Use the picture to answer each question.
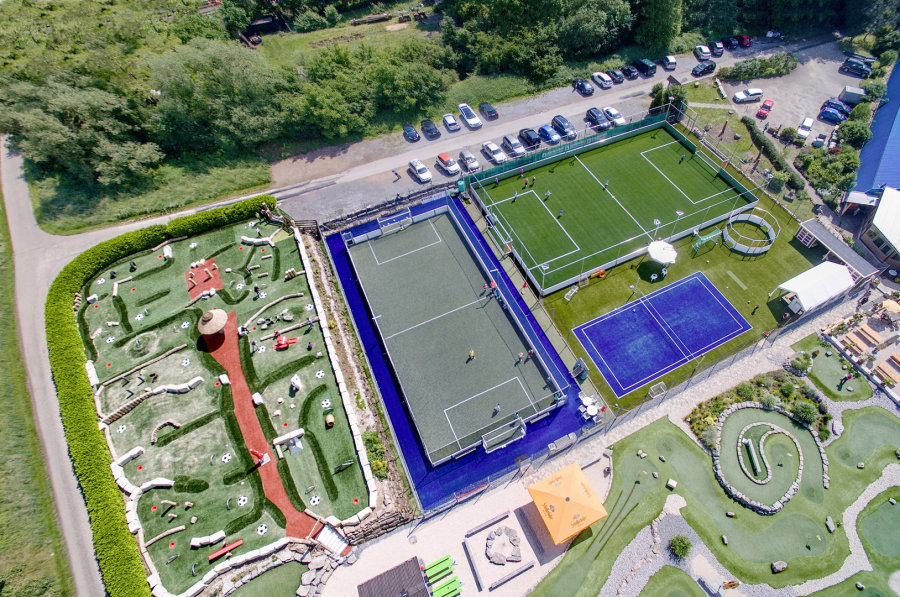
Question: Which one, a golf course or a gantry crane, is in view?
golf course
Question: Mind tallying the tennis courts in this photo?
1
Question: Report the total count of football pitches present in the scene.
2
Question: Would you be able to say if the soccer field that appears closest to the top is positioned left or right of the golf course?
on its right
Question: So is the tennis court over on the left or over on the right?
right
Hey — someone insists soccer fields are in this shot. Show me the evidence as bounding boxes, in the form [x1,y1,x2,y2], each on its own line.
[325,192,579,516]
[476,105,771,295]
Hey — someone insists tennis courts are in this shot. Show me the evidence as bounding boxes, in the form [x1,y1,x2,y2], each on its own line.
[572,271,753,398]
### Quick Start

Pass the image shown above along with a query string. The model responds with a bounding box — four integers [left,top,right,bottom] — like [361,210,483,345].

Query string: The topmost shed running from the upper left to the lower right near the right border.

[792,218,880,290]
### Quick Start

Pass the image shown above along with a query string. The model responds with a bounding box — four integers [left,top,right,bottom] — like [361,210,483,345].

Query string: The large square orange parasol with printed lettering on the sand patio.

[528,462,607,545]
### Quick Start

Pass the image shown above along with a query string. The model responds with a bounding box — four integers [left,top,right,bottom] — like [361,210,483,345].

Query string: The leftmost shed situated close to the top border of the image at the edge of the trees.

[250,14,277,37]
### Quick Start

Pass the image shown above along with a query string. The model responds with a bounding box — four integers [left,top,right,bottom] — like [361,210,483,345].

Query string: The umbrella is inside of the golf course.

[199,310,230,337]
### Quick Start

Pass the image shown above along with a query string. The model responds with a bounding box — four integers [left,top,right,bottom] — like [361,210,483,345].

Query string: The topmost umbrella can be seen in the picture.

[642,238,682,270]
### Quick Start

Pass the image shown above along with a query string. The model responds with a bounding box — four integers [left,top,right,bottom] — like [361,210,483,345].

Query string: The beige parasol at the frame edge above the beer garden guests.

[877,300,900,321]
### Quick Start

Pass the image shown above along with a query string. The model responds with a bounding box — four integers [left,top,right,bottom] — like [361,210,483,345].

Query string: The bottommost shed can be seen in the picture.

[358,557,431,597]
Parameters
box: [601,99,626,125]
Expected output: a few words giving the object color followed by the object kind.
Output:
white car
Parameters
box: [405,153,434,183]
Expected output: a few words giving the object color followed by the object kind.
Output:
white car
